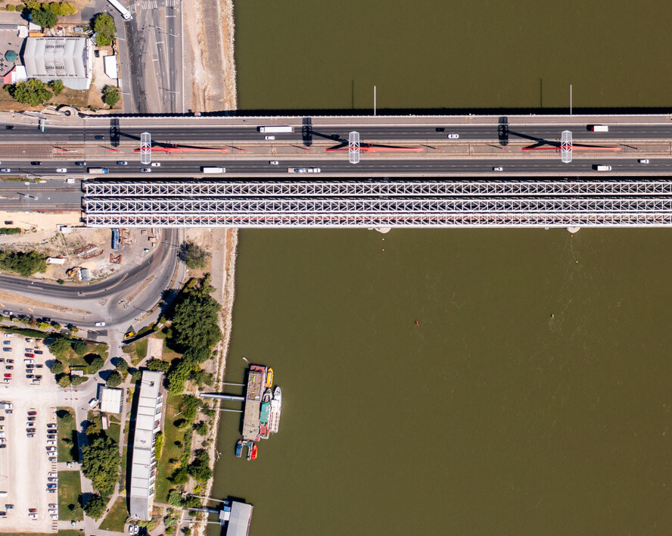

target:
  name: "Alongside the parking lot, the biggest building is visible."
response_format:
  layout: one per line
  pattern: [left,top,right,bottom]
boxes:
[129,367,169,521]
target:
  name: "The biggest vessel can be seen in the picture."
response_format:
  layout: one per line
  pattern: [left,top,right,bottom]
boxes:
[241,364,267,441]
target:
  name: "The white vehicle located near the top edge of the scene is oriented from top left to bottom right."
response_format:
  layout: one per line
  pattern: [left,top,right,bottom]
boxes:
[106,0,133,20]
